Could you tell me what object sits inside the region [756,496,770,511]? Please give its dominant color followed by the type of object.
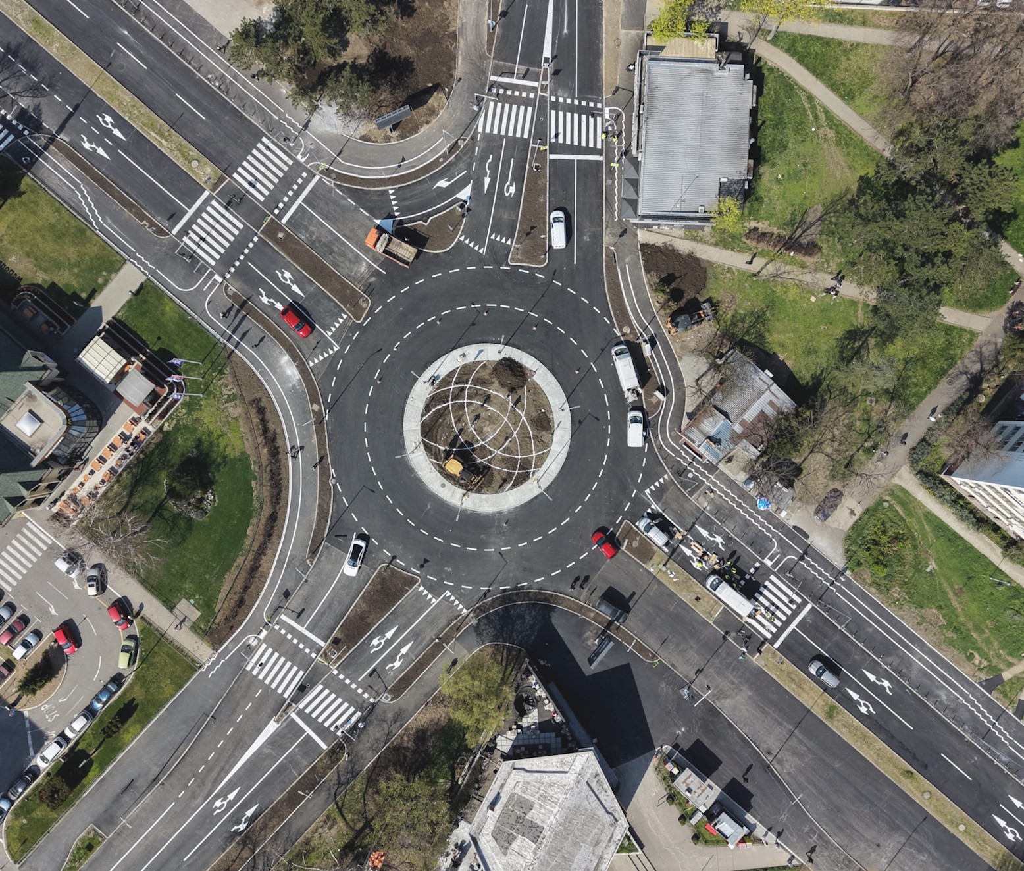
blue umbrella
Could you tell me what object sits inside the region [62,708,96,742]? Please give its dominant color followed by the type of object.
white car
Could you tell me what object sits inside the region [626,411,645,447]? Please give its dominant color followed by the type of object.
white vehicle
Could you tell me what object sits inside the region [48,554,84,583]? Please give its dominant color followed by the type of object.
white car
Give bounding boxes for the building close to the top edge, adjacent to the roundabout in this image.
[622,32,757,235]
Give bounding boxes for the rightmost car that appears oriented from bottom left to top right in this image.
[813,484,846,522]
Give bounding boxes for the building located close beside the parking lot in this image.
[0,322,111,532]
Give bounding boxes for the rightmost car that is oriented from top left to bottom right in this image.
[806,658,842,691]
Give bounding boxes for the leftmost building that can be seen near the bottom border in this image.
[469,675,629,871]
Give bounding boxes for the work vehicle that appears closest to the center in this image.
[435,448,487,491]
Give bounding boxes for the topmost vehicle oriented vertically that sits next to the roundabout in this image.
[549,211,568,250]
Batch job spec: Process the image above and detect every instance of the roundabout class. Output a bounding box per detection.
[316,253,658,609]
